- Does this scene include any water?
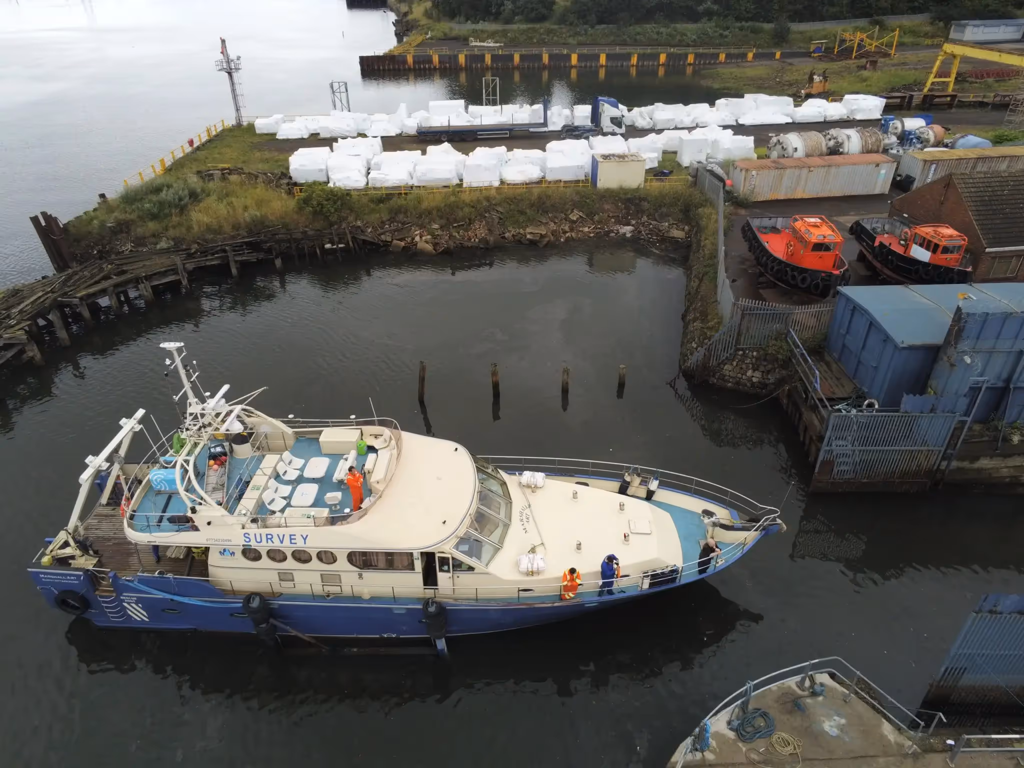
Yes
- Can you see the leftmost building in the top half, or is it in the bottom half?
top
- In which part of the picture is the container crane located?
top right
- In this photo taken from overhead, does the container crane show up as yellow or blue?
yellow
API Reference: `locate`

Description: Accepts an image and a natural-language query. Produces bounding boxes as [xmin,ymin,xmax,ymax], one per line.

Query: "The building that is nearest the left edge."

[592,152,648,187]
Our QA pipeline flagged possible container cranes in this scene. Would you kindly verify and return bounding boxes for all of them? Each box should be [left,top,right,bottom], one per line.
[928,41,1024,89]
